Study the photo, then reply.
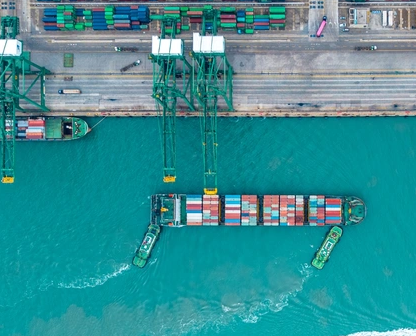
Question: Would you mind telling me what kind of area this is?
port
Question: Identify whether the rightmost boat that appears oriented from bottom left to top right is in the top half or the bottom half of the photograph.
bottom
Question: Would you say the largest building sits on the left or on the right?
right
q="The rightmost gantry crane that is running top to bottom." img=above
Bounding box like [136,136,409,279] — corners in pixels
[191,7,238,195]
